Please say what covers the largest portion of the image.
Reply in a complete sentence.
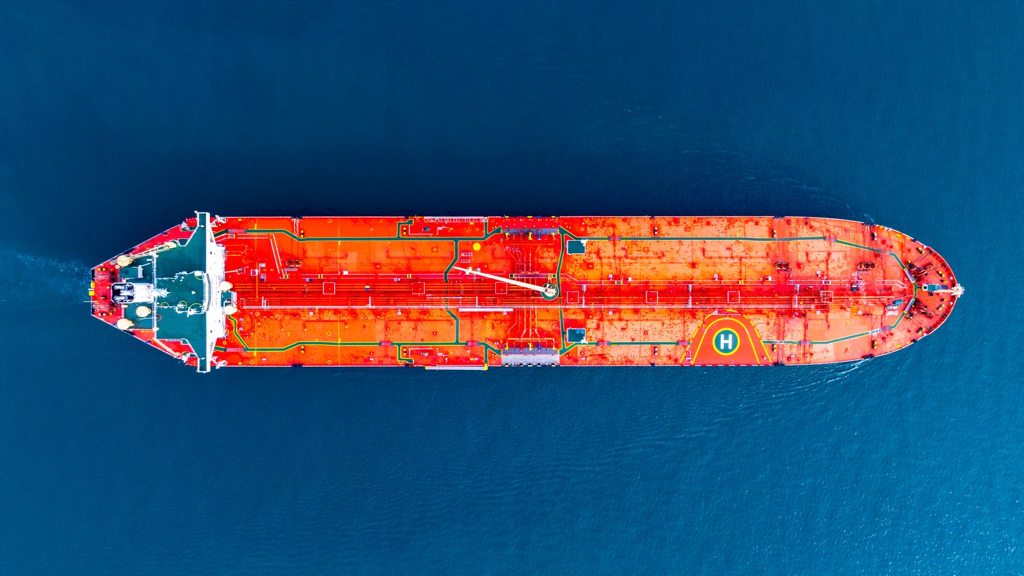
The largest share of the image is taken up by water.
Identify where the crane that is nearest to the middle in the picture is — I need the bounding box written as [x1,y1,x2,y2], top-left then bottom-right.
[454,264,559,300]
